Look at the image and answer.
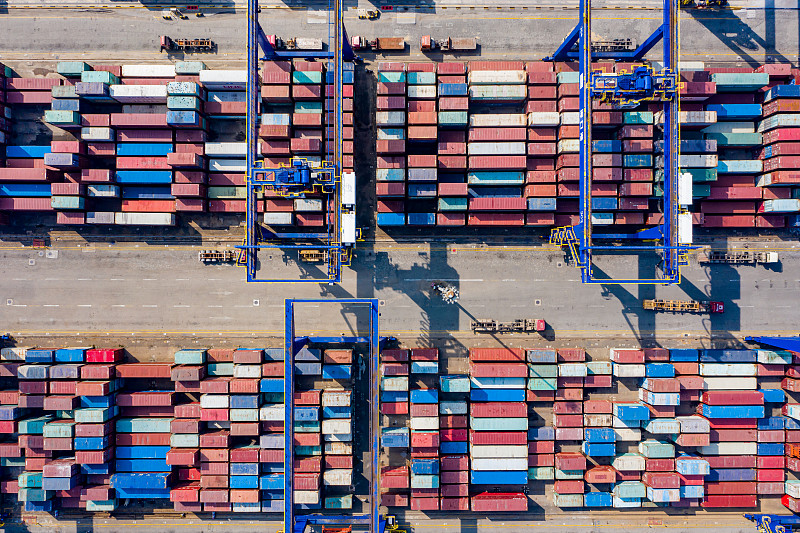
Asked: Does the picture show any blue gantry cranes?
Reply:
Yes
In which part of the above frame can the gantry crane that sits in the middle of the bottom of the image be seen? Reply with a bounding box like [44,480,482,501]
[282,299,402,533]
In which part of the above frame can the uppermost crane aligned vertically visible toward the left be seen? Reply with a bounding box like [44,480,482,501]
[234,0,370,284]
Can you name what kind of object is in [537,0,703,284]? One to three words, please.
container crane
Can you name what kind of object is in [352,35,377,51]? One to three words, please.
vehicle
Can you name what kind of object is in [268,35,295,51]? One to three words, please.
vehicle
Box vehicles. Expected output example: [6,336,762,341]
[642,300,723,313]
[198,250,247,263]
[297,251,334,262]
[162,35,216,51]
[363,7,378,20]
[470,319,544,332]
[698,251,777,263]
[268,35,295,51]
[593,38,638,51]
[420,35,449,51]
[352,35,377,51]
